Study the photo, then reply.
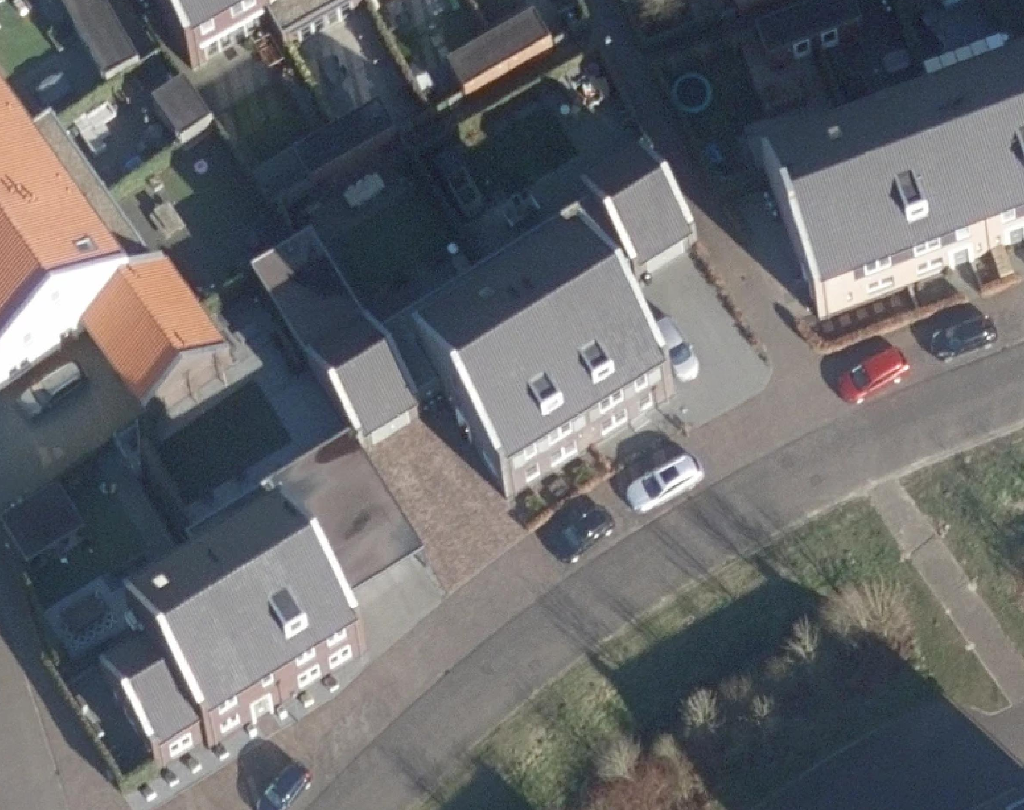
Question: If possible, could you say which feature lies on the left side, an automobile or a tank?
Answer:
automobile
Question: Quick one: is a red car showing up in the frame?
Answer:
Yes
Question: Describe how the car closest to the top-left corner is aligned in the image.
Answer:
diagonally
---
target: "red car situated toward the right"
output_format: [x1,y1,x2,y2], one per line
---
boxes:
[838,350,910,407]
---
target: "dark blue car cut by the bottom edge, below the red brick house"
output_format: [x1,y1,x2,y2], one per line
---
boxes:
[250,763,319,810]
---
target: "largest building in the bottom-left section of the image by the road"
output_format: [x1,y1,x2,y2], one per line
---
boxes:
[121,483,367,751]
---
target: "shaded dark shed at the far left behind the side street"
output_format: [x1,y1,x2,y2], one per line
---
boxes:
[3,484,83,572]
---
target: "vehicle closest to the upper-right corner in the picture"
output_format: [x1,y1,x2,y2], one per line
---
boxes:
[926,309,1004,365]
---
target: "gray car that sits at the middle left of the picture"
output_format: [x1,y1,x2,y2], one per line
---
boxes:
[16,356,92,421]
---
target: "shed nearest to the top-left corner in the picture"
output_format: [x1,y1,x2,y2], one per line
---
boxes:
[66,0,139,85]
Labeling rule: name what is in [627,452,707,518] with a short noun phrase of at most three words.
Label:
car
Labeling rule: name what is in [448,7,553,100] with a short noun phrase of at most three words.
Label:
shed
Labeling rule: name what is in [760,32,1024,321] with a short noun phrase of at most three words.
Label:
house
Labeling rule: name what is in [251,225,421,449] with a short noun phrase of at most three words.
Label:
building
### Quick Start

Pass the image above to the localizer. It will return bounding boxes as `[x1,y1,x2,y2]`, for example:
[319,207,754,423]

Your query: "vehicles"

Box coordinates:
[838,350,910,407]
[545,502,618,565]
[16,356,92,421]
[926,309,1004,365]
[250,763,319,810]
[627,452,707,518]
[652,312,698,386]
